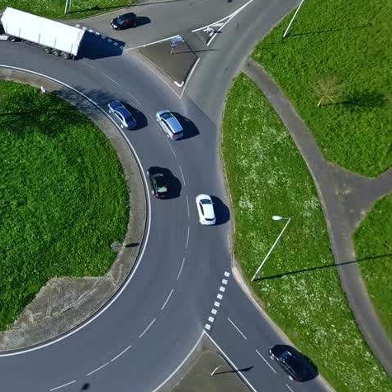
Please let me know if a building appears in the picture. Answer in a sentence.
No, I can see no building in this picture.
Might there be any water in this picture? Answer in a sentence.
No, the picture contains no water.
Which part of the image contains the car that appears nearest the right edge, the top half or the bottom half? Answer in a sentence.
The car that appears nearest the right edge sits in the bottom half of the picture.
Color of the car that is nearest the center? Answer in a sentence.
From above, the car that is nearest the center appears white.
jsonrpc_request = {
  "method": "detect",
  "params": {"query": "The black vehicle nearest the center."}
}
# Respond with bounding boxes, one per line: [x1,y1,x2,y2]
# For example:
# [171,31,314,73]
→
[149,167,171,199]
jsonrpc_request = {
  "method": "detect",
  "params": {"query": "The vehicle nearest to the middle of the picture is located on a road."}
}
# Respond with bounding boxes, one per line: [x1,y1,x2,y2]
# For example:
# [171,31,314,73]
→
[196,194,216,226]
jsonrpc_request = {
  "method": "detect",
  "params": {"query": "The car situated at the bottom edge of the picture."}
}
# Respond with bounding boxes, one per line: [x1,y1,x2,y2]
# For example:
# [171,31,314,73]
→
[269,344,309,382]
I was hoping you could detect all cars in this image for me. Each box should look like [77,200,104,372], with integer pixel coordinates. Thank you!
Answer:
[109,100,137,130]
[158,110,184,140]
[149,167,171,199]
[109,10,139,30]
[196,194,216,226]
[269,344,309,382]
